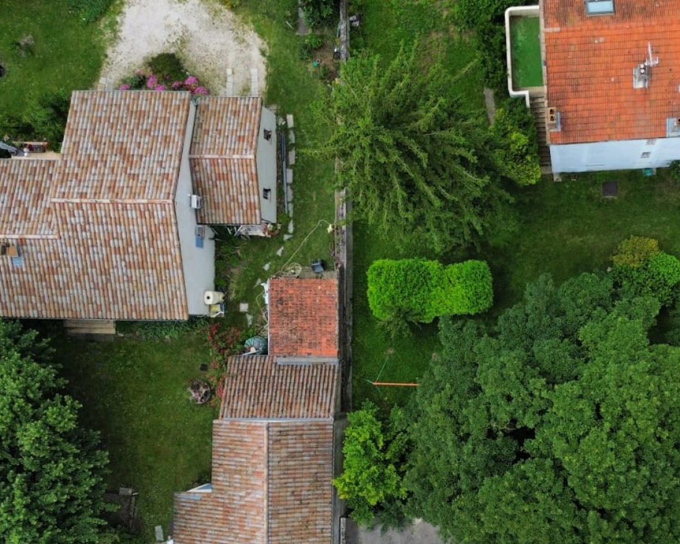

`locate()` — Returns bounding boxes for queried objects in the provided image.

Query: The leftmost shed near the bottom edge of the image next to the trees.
[174,416,341,544]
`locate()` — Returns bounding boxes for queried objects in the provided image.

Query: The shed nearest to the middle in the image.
[267,277,342,358]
